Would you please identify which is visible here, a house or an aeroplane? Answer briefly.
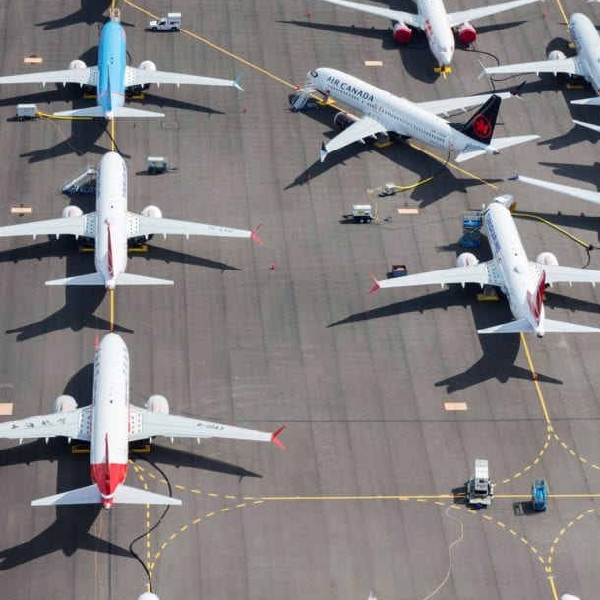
aeroplane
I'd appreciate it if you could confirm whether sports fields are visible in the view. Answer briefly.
No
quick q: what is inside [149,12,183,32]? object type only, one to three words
vehicle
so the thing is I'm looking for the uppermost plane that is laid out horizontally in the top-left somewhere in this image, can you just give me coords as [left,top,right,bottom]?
[0,19,243,121]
